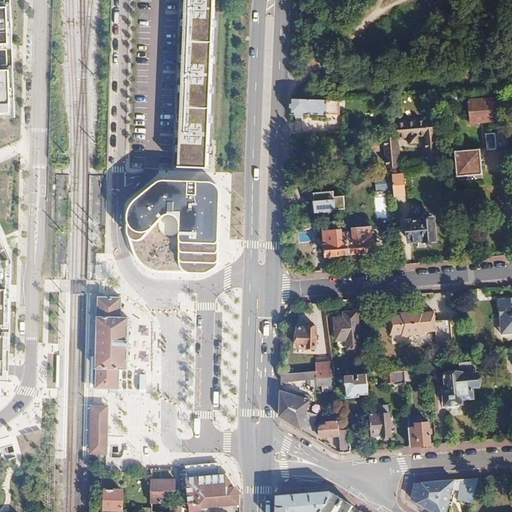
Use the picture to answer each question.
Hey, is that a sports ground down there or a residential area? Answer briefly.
residential area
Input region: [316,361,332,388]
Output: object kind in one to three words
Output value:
building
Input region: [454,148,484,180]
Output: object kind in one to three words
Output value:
house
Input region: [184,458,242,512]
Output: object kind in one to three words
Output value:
building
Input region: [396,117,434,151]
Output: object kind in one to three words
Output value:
house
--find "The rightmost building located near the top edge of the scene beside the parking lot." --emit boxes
[176,0,216,168]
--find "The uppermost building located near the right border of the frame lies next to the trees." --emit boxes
[468,96,493,124]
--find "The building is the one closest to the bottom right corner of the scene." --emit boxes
[412,477,481,512]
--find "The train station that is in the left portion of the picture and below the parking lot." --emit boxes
[94,297,126,390]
